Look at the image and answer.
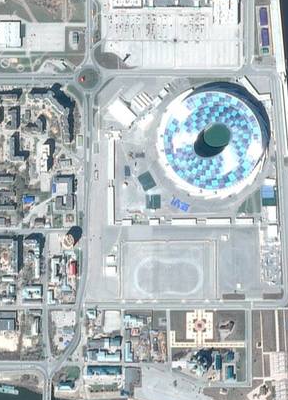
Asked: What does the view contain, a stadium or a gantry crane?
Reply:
stadium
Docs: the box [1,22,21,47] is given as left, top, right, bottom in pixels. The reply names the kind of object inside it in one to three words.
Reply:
building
